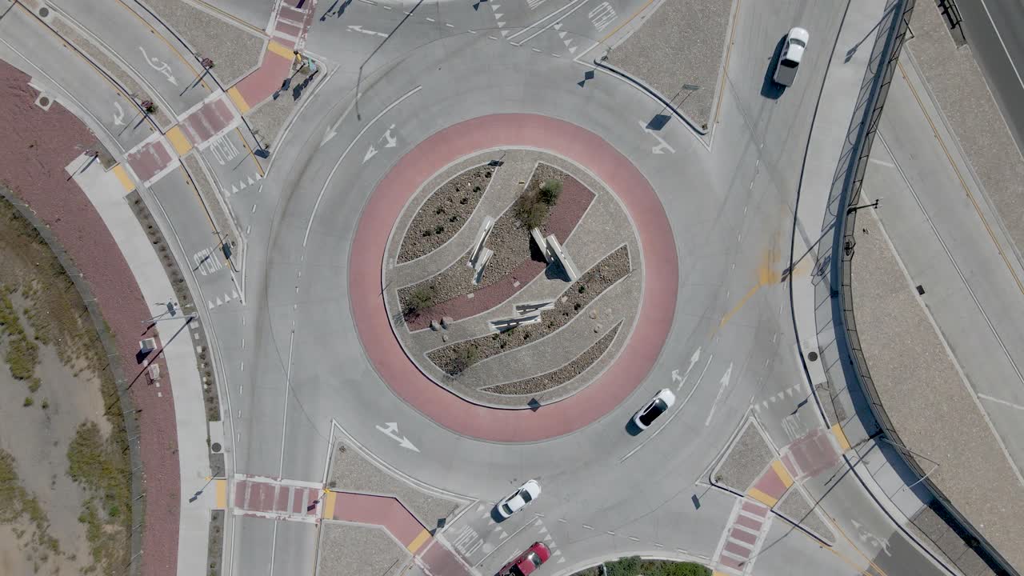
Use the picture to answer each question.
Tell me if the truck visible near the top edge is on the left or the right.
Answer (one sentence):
The truck visible near the top edge is on the right side of the image.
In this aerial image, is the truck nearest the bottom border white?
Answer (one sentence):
No, from above the truck nearest the bottom border looks red.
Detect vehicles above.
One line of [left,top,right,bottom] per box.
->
[635,389,678,432]
[771,27,808,90]
[495,542,552,576]
[498,480,542,520]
